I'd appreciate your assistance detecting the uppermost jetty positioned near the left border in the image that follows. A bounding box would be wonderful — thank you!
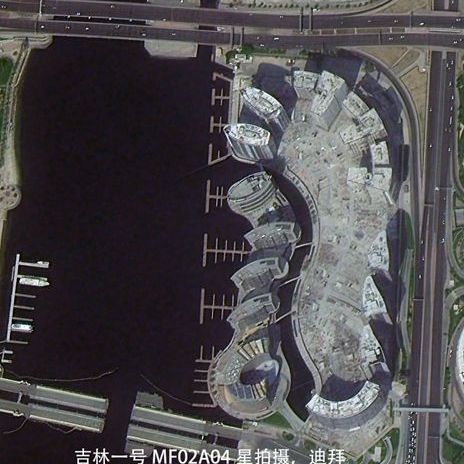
[0,254,48,344]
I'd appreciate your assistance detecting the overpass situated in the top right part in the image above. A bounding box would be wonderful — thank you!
[422,14,464,49]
